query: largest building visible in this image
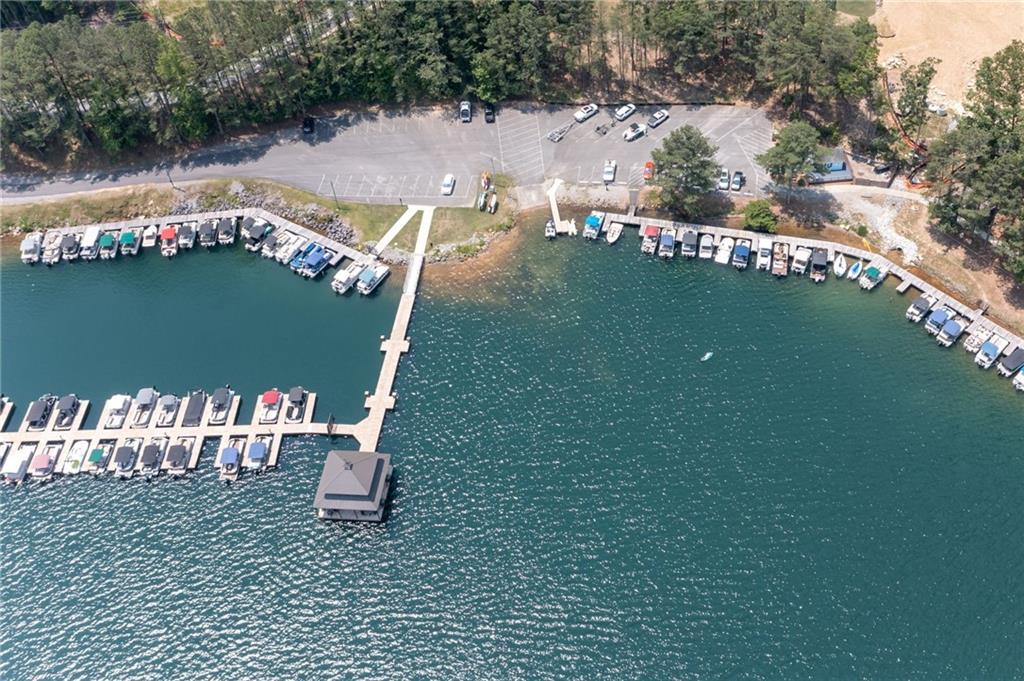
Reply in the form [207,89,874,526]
[314,449,390,521]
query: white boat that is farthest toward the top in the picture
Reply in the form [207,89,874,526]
[622,118,648,139]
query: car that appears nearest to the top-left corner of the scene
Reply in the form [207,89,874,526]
[302,113,314,134]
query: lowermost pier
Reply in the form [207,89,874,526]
[0,393,316,473]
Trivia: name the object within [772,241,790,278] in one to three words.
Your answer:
boat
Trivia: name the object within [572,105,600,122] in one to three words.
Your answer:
vehicle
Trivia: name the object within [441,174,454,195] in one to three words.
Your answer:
vehicle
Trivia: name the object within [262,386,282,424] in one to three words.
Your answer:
boat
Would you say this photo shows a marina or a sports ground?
marina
